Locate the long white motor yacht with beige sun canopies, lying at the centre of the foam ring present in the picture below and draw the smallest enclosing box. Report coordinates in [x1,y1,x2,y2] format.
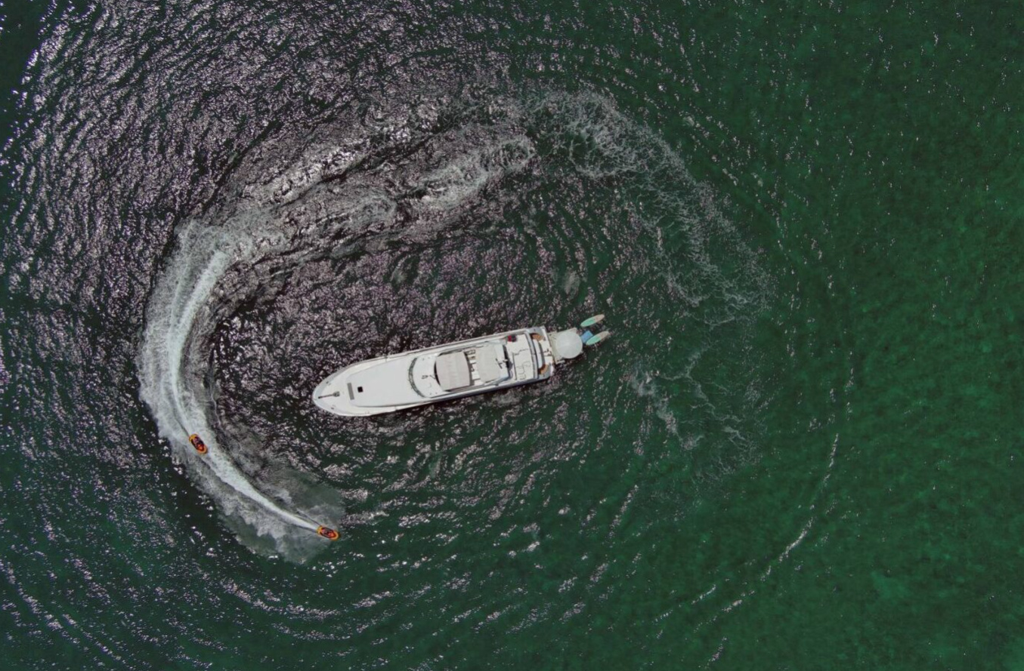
[313,326,582,414]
